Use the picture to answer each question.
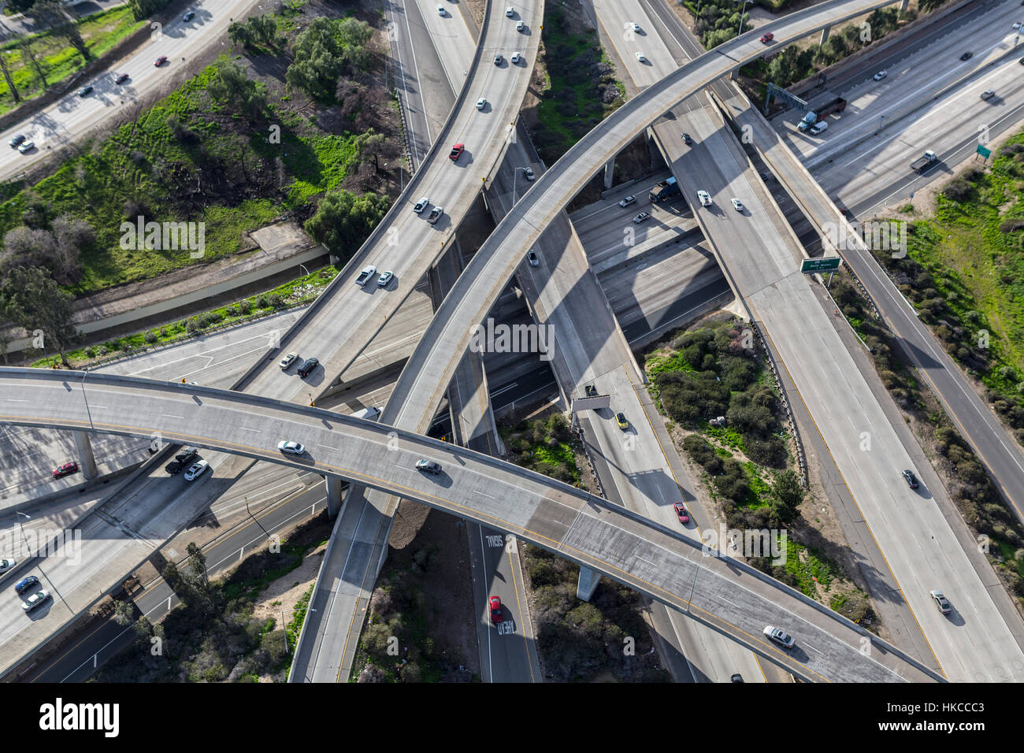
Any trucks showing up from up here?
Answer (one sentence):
Yes, the photo shows a truck.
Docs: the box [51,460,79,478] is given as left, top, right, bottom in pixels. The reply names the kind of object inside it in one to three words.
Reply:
car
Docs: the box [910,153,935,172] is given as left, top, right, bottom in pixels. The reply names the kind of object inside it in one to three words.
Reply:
vehicle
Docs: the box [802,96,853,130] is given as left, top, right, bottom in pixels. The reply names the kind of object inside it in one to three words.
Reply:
truck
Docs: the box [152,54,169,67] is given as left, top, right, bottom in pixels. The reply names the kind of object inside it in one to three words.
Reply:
vehicle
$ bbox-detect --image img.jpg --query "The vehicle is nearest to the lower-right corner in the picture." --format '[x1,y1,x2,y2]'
[931,590,951,615]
